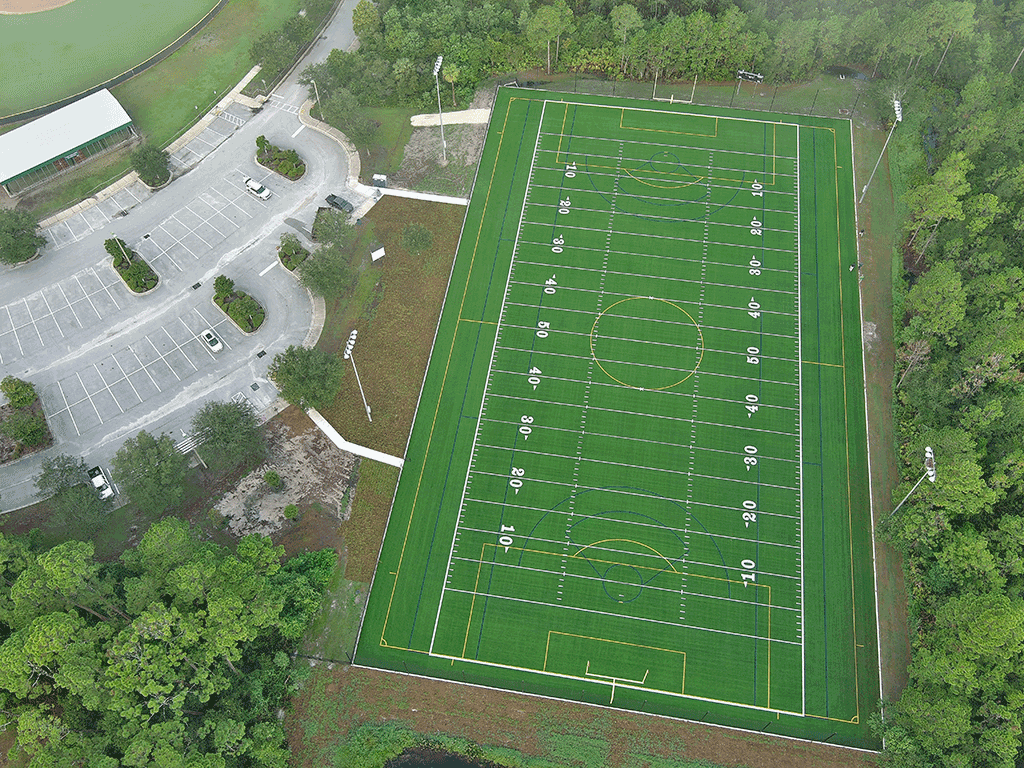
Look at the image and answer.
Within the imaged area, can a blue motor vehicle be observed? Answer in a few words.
No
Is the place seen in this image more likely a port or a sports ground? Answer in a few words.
sports ground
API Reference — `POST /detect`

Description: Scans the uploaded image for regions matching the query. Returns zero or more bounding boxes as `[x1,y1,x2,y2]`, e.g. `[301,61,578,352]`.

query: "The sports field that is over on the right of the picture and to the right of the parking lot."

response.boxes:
[349,84,883,751]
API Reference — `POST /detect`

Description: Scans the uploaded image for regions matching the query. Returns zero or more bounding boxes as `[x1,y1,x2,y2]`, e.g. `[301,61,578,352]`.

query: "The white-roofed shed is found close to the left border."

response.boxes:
[0,87,144,198]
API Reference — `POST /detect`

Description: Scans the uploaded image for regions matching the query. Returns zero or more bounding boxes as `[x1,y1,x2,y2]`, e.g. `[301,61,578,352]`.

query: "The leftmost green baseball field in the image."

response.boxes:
[0,0,228,115]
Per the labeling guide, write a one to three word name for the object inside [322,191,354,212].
truck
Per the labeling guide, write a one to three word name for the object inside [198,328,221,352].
car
